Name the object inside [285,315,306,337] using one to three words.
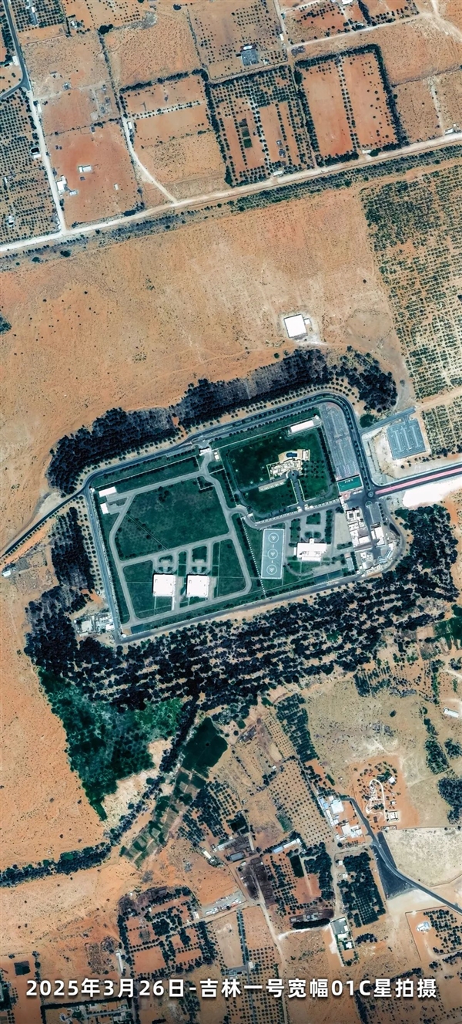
building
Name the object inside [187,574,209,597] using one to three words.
building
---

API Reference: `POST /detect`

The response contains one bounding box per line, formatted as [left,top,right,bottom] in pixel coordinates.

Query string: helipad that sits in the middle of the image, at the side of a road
[262,529,284,578]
